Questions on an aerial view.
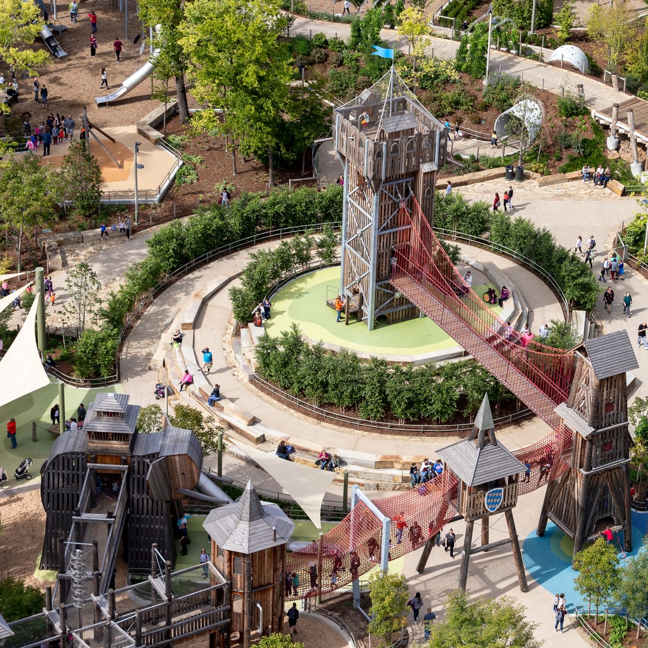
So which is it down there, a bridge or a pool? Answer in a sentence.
Visible in the photo is a bridge.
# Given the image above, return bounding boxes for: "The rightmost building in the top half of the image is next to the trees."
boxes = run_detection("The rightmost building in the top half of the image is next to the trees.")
[316,38,445,330]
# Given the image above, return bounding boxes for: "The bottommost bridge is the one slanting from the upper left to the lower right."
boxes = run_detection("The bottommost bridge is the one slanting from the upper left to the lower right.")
[387,202,572,460]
